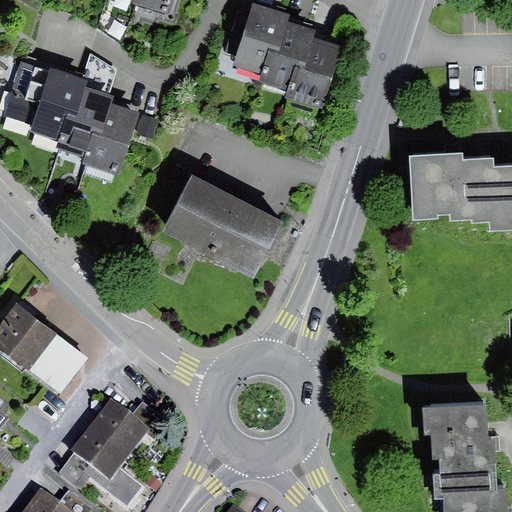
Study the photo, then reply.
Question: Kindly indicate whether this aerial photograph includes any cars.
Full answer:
Yes, the photo shows a car.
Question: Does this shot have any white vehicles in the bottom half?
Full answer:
Yes, there is a white vehicle in the bottom half.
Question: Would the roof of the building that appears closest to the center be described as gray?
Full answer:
Yes, the roof of the building that appears closest to the center is indeed gray.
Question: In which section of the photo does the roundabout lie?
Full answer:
You can find the roundabout in the bottom area of the picture.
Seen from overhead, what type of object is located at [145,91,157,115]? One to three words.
vehicle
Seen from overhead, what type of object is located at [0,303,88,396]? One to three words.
house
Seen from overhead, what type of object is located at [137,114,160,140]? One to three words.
building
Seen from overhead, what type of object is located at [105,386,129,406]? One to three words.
vehicle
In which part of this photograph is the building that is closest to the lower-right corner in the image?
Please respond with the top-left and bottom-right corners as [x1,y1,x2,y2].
[422,402,508,512]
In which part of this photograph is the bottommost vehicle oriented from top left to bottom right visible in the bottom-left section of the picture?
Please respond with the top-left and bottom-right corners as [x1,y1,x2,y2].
[46,449,66,470]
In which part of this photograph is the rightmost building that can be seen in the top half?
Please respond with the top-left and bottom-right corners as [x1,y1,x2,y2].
[409,152,512,232]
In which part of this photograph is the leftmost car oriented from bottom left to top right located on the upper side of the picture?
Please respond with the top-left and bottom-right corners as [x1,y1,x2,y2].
[196,152,213,174]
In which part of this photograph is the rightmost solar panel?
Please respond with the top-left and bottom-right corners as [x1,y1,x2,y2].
[85,92,111,122]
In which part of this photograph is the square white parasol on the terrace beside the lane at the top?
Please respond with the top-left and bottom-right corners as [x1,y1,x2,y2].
[108,19,127,40]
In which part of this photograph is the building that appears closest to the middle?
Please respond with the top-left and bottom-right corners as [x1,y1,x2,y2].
[164,174,282,280]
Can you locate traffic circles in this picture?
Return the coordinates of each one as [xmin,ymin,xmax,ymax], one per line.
[196,337,326,474]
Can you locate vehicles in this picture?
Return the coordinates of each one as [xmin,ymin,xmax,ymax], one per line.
[448,64,460,94]
[44,392,66,412]
[132,82,145,106]
[124,364,144,387]
[105,386,129,406]
[145,91,157,115]
[302,382,312,404]
[46,449,66,470]
[140,382,159,400]
[474,67,485,90]
[38,400,60,422]
[309,307,322,332]
[128,393,141,408]
[196,152,213,174]
[274,500,288,512]
[253,494,271,512]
